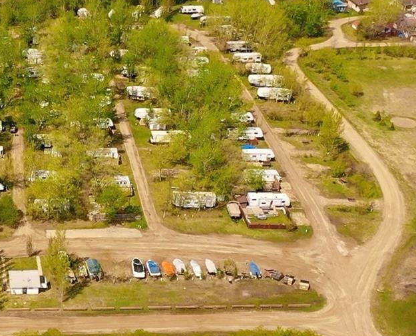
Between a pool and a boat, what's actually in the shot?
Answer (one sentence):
The image shows a boat.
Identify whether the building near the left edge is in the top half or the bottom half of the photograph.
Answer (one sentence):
The building near the left edge sits in the bottom half of the picture.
